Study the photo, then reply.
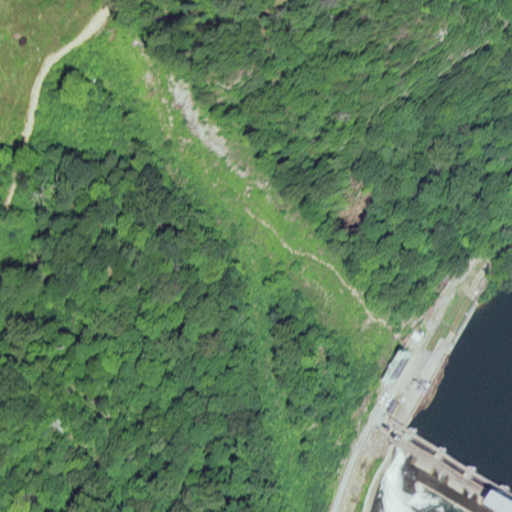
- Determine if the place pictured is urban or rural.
rural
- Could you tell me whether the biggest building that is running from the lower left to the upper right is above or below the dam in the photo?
above it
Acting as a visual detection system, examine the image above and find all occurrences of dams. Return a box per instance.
[389,421,512,512]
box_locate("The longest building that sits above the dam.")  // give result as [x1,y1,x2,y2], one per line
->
[382,350,412,387]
